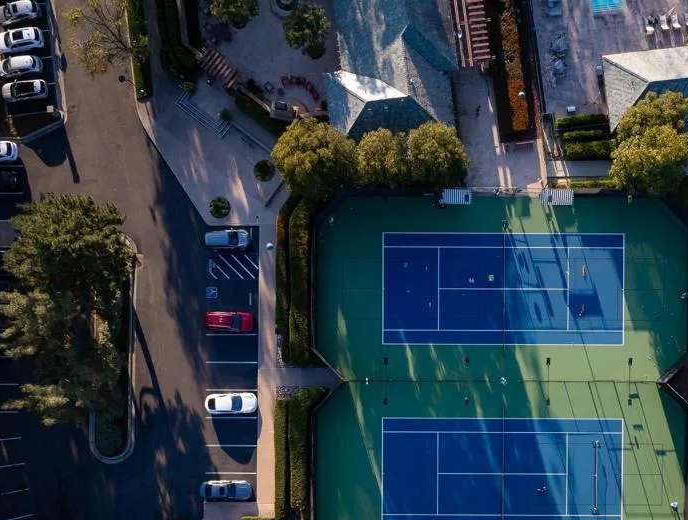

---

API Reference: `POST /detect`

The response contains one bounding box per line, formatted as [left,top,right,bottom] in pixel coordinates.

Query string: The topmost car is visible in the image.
[0,0,45,29]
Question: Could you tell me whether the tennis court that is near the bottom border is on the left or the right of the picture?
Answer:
right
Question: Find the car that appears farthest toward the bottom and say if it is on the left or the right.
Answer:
left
